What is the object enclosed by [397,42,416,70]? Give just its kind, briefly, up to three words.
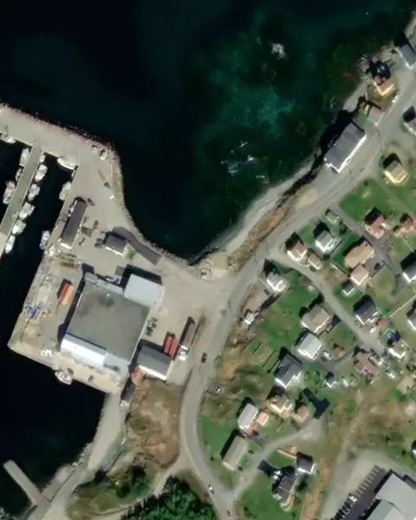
house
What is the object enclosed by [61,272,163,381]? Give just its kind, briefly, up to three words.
building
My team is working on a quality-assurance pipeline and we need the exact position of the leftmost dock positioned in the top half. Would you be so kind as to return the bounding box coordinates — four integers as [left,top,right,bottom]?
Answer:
[0,145,44,261]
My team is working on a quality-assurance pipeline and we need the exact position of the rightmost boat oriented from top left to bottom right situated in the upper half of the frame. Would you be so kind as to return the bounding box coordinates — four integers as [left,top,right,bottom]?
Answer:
[57,157,76,171]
